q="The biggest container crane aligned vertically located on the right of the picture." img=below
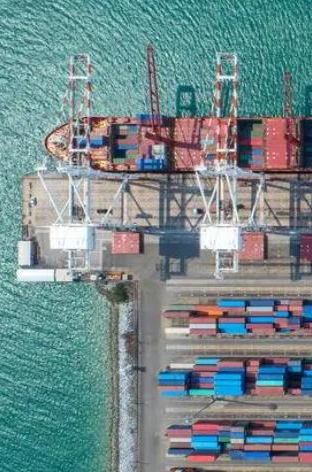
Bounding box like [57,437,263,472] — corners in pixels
[199,52,277,282]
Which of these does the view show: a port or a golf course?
port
